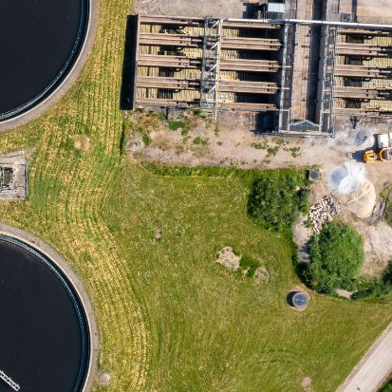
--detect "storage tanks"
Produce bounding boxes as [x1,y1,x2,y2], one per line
[0,220,98,392]
[0,0,97,131]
